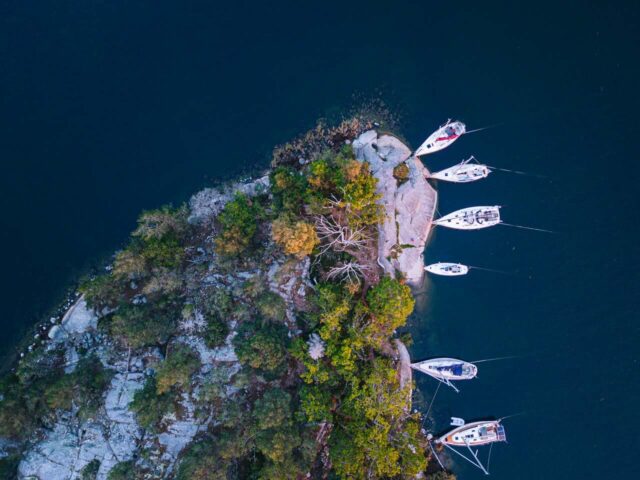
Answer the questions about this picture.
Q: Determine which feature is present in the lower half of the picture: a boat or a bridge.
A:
boat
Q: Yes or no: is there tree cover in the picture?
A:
Yes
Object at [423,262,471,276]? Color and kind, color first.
white boat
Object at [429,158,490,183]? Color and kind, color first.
white boat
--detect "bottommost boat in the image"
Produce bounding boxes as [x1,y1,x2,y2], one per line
[436,421,509,479]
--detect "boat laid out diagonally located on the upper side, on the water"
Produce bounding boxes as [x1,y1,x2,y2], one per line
[414,122,466,156]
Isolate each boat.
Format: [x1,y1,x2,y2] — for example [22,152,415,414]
[429,158,490,183]
[423,262,471,276]
[432,204,503,229]
[409,358,481,391]
[436,421,509,479]
[451,416,465,426]
[414,122,466,156]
